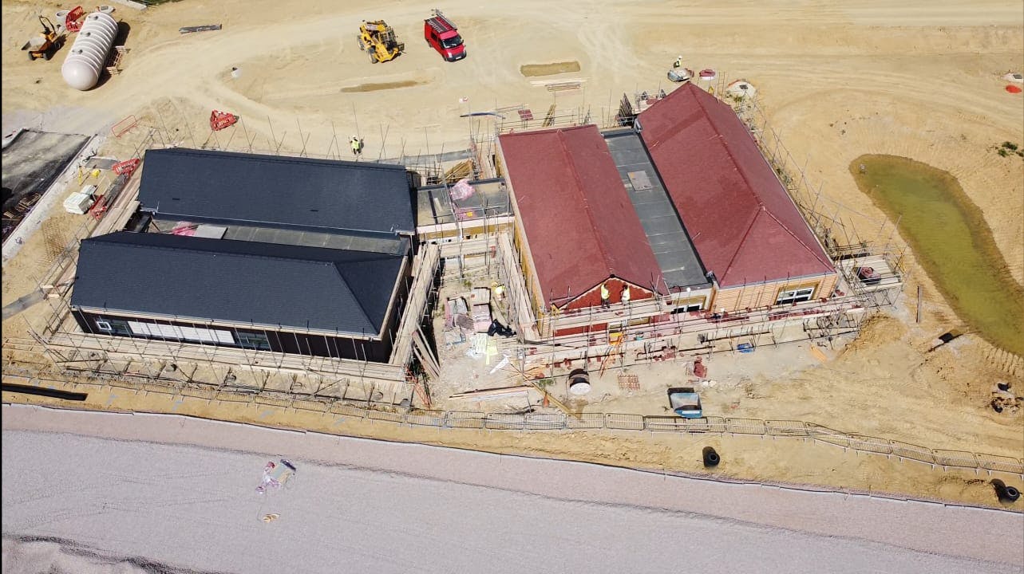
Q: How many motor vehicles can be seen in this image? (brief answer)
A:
three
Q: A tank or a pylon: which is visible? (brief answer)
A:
tank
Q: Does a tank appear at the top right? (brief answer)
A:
No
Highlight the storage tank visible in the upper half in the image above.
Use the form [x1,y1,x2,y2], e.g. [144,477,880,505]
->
[61,12,121,88]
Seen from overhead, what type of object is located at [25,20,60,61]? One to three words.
truck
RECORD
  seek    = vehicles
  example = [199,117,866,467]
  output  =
[422,13,467,62]
[25,20,60,61]
[357,21,398,69]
